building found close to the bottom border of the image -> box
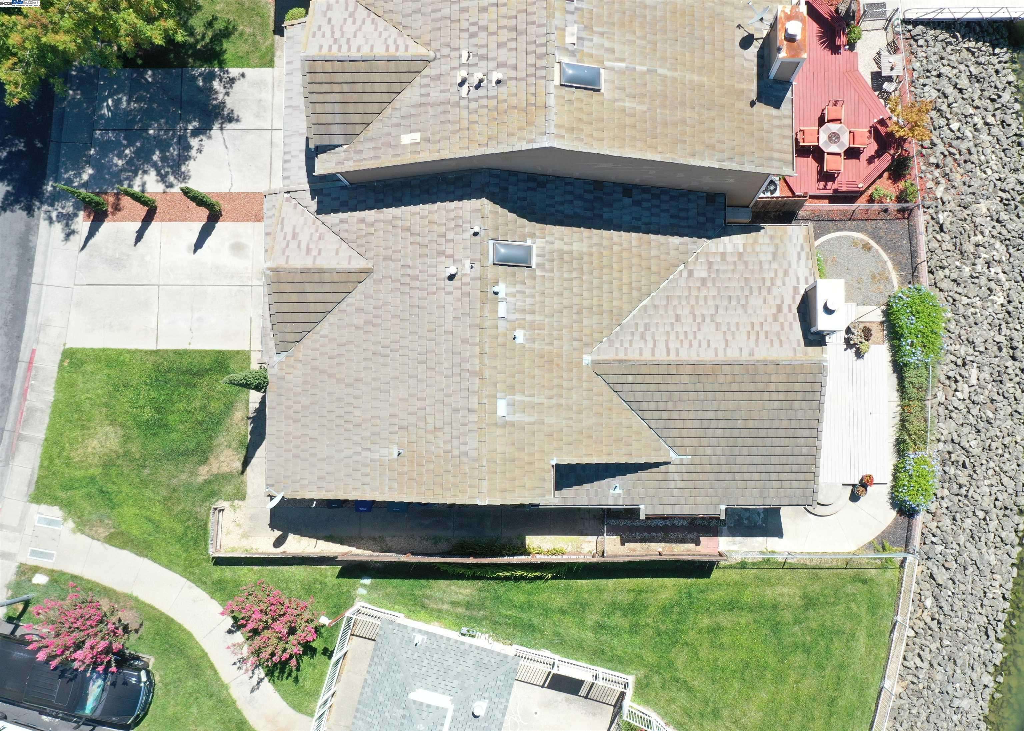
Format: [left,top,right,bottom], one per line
[351,618,521,731]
